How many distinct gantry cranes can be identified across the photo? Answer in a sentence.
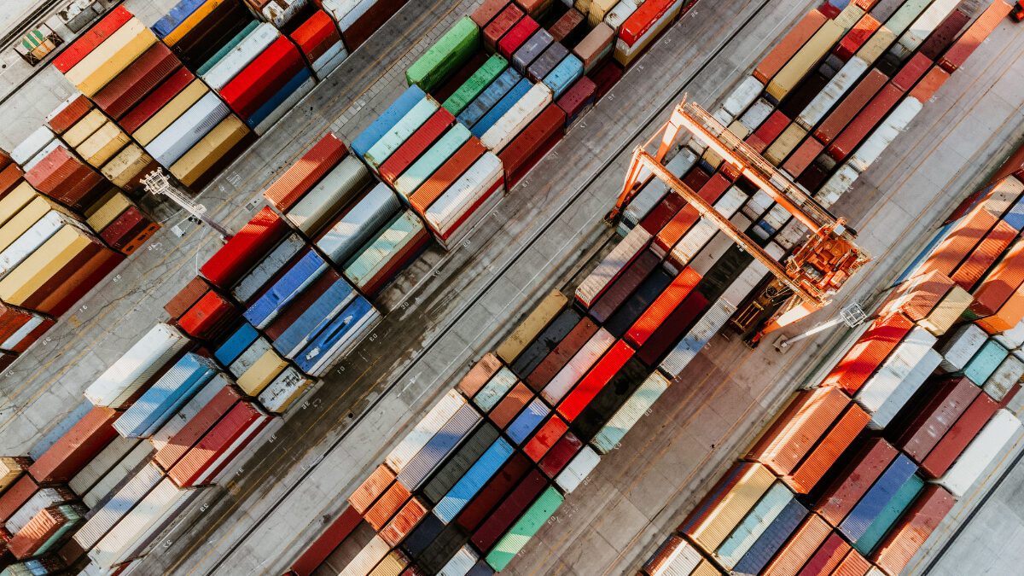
Just 1 gantry crane appears in this view.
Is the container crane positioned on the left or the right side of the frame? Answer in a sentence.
It is on the right.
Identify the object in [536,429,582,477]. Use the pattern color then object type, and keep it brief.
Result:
red shipping container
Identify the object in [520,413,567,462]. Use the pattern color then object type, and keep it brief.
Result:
red shipping container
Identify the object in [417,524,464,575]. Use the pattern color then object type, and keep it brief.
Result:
black shipping container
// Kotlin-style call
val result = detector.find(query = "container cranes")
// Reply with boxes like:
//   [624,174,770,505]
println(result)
[602,84,882,356]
